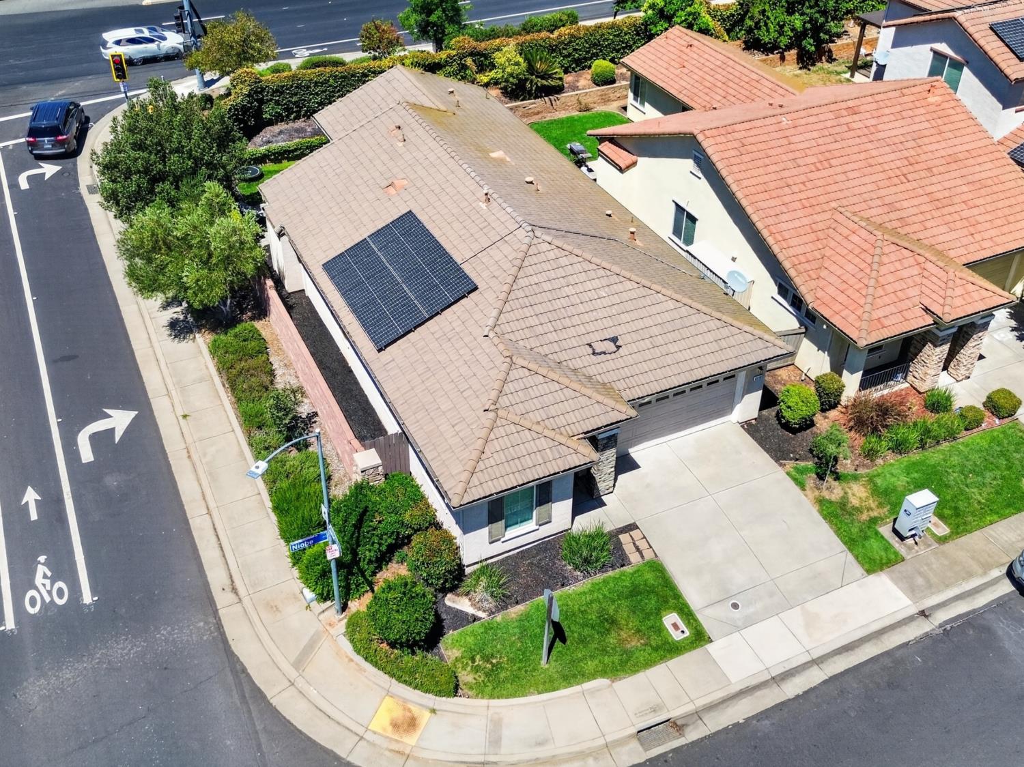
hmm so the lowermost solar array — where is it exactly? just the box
[322,209,476,351]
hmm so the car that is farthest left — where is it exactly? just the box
[29,95,89,148]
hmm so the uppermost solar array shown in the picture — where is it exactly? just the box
[992,16,1024,60]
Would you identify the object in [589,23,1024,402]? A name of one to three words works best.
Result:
house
